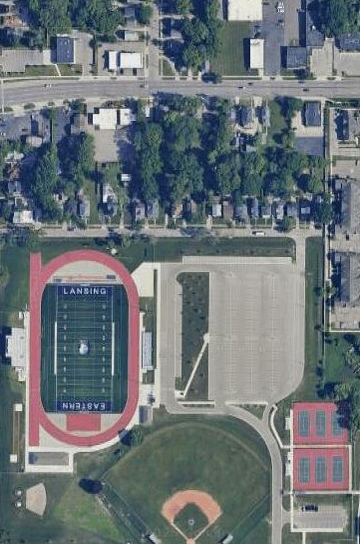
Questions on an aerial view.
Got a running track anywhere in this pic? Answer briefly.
Yes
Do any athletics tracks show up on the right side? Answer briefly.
No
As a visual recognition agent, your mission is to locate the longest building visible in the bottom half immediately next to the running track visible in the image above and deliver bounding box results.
[33,452,68,465]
